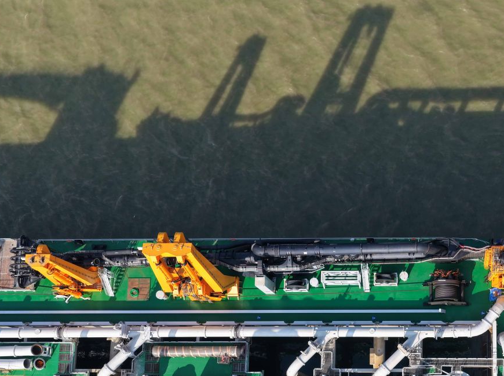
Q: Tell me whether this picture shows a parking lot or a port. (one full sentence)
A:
This looks like a port.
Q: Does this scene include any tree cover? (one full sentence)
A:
No, no tree cover is visible.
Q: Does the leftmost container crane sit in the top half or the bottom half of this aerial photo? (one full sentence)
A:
Seen from above, the leftmost container crane lies in the bottom half of the view.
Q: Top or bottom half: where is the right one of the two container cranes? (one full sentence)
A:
The right one of the two container cranes is in the bottom half of the image.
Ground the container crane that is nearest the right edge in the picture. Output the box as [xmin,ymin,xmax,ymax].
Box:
[144,235,236,303]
